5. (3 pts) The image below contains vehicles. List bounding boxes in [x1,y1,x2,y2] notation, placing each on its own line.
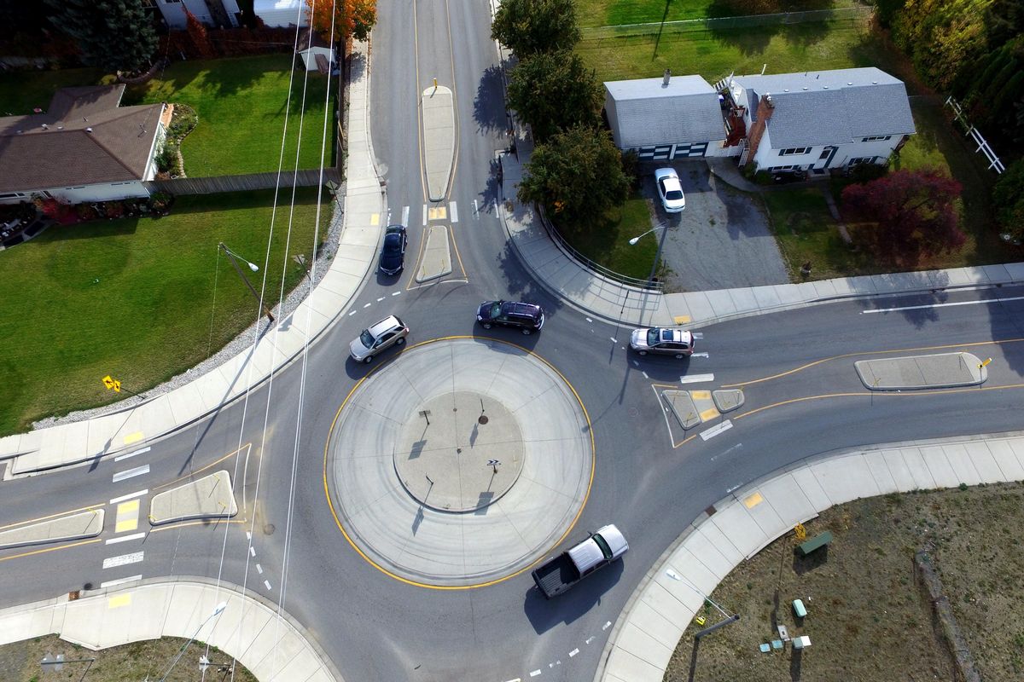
[477,299,546,334]
[377,229,407,282]
[531,526,629,604]
[652,170,686,218]
[629,327,696,361]
[349,315,412,365]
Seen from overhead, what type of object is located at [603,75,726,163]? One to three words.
building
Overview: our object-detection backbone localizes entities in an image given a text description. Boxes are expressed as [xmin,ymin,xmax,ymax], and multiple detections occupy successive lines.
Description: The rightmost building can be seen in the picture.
[734,58,916,191]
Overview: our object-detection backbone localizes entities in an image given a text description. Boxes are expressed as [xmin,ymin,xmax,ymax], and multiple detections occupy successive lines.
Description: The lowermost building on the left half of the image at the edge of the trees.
[0,83,170,207]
